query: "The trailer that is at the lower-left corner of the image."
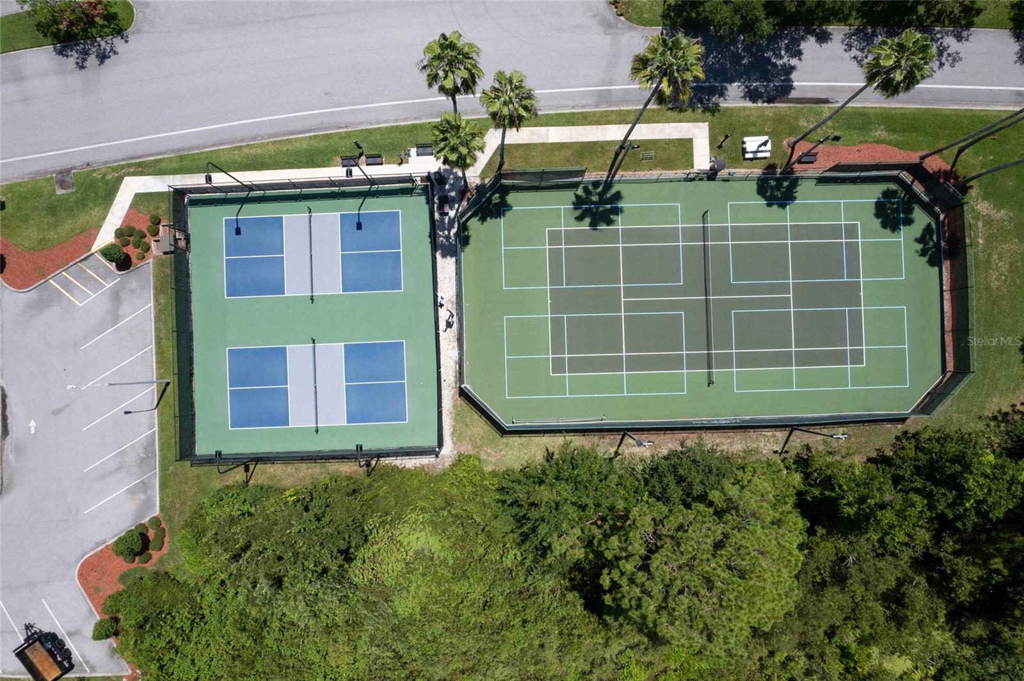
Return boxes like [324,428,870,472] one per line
[12,619,76,681]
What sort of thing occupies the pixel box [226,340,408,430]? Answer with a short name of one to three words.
sports court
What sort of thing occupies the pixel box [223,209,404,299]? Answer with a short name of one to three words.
sports court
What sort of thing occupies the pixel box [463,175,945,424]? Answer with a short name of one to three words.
tennis court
